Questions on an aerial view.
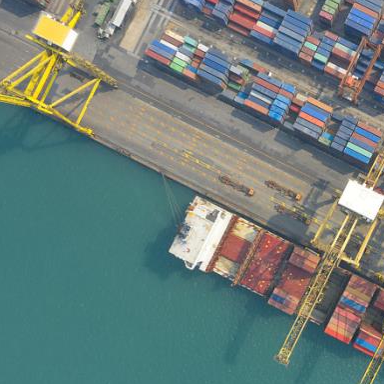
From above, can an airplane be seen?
No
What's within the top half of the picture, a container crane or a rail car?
container crane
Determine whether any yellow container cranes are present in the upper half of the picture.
Yes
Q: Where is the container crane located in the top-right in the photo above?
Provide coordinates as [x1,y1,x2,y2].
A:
[333,36,384,113]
